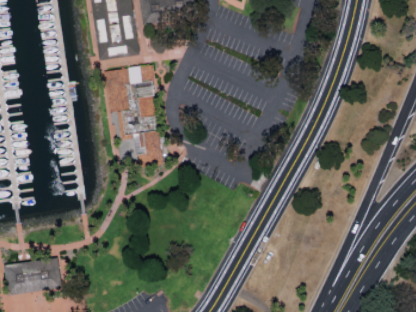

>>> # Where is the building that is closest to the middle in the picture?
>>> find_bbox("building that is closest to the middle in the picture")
[104,64,166,166]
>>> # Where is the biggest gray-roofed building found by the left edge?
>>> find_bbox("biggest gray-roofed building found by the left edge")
[4,258,62,296]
